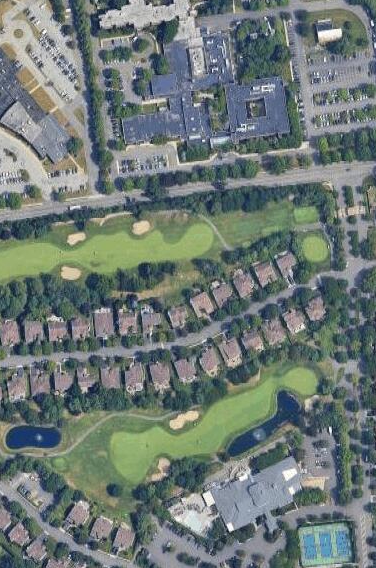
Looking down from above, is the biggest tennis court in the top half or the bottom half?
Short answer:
bottom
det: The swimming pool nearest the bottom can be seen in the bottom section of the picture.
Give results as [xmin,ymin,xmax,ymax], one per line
[187,508,208,533]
